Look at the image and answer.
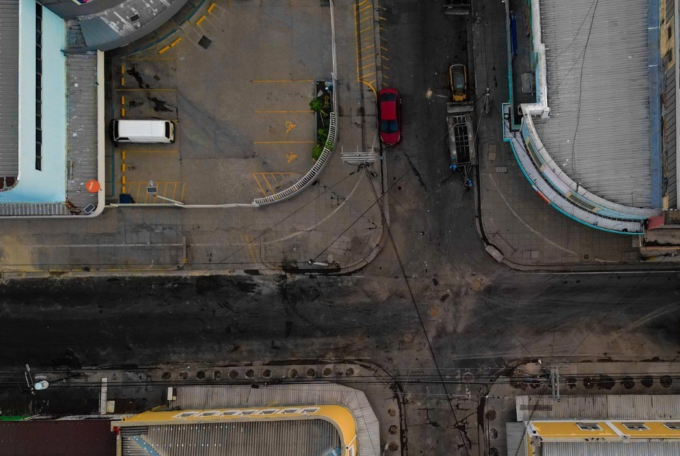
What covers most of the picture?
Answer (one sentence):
For the most part, this view shows paved ground.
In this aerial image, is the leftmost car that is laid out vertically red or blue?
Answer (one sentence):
The leftmost car that is laid out vertically looks red in the image.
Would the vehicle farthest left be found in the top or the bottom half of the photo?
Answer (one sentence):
Seen from above, the vehicle farthest left lies in the top half of the view.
